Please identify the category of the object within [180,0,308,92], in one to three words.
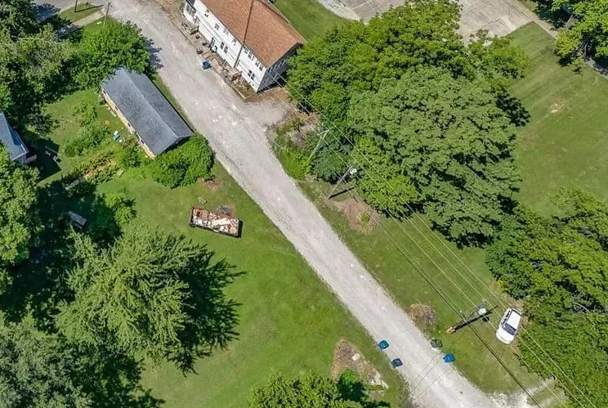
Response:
house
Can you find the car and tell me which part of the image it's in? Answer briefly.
bottom right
